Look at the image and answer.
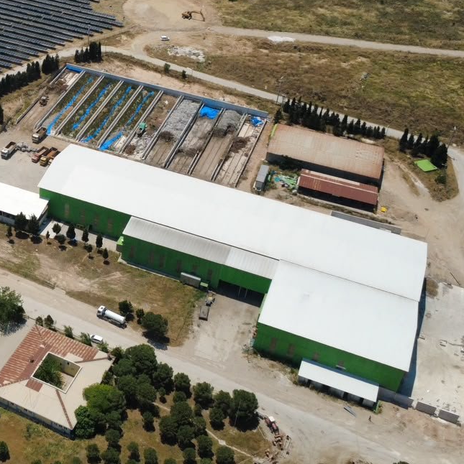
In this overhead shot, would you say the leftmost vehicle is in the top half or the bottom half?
top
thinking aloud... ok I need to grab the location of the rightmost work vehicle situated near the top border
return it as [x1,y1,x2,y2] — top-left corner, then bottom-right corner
[183,9,210,21]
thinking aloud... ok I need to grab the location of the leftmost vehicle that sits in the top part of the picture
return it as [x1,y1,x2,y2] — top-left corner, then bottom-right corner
[2,136,22,156]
